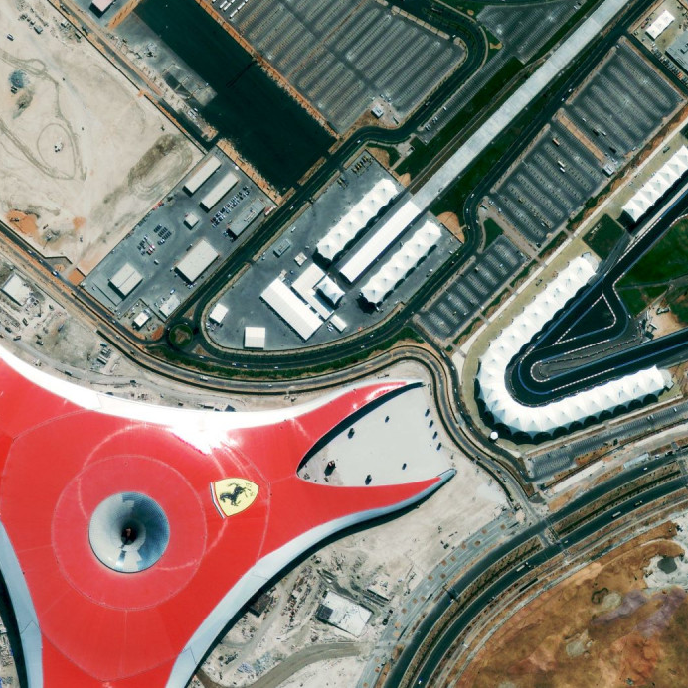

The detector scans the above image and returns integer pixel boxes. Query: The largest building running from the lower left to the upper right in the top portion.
[338,199,421,283]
